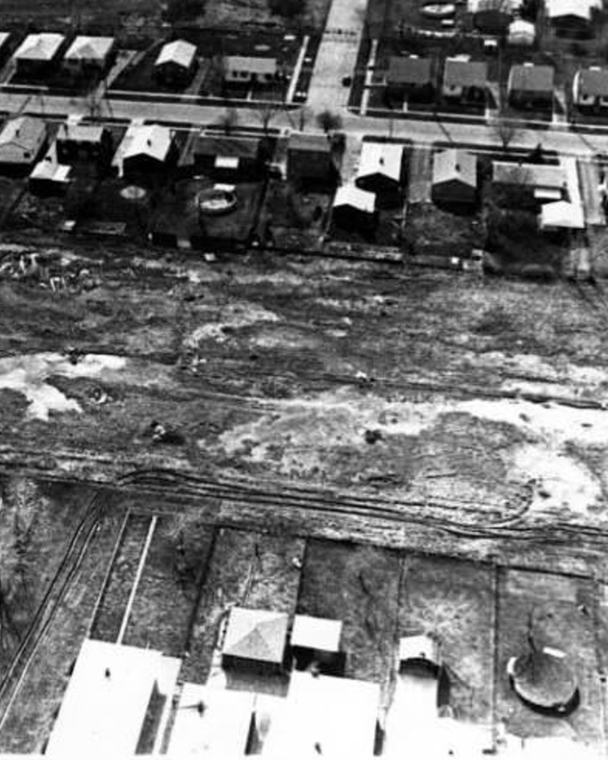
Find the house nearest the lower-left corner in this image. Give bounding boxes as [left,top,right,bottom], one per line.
[45,640,181,760]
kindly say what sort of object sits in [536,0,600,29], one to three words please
house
